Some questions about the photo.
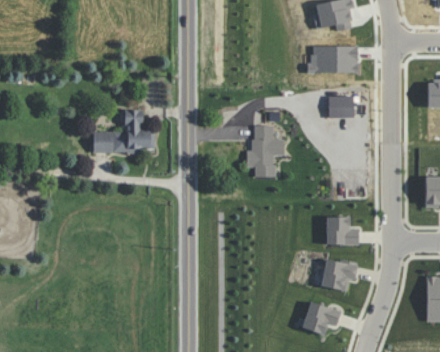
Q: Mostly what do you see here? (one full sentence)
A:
Most of the picture is covered by grass.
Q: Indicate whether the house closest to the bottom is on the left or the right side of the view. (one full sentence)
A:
It is on the right.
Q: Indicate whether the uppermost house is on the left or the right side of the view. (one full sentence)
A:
The uppermost house sits on the right side.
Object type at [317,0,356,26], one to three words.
house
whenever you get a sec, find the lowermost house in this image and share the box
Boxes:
[304,302,342,337]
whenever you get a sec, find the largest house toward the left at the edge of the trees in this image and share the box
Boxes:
[94,109,156,153]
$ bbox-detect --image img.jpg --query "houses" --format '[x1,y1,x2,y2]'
[94,109,156,153]
[426,176,440,209]
[328,216,360,245]
[428,78,440,107]
[428,276,440,322]
[322,260,360,292]
[304,302,342,337]
[317,0,356,26]
[308,46,364,72]
[248,125,285,178]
